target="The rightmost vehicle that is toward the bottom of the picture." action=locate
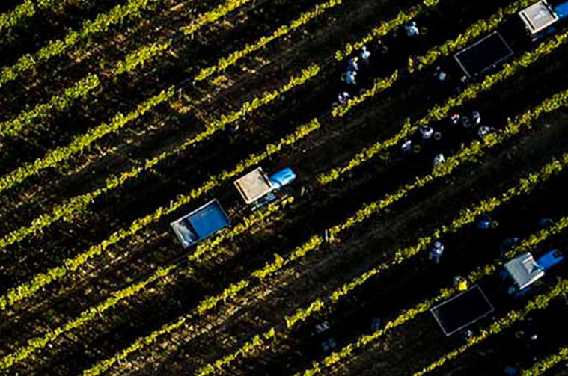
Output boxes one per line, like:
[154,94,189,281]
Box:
[497,253,562,300]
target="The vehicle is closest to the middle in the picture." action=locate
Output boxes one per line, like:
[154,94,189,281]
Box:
[231,166,295,214]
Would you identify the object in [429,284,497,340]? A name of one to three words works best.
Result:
trailer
